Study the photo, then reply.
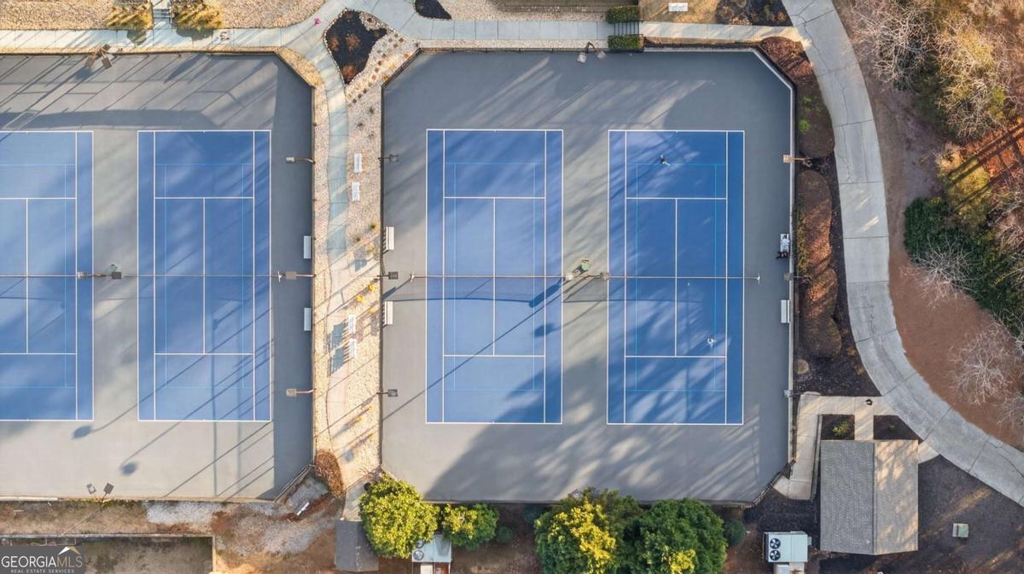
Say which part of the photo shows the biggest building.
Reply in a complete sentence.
The biggest building is in the bottom right part of the image.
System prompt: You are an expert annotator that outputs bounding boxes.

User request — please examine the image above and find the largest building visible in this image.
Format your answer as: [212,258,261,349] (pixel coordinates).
[820,440,918,555]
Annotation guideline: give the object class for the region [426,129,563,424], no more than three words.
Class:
tennis court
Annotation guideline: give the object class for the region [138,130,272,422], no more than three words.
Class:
tennis court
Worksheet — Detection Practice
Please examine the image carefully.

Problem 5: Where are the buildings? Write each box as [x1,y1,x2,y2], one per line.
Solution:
[335,520,378,572]
[820,440,918,555]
